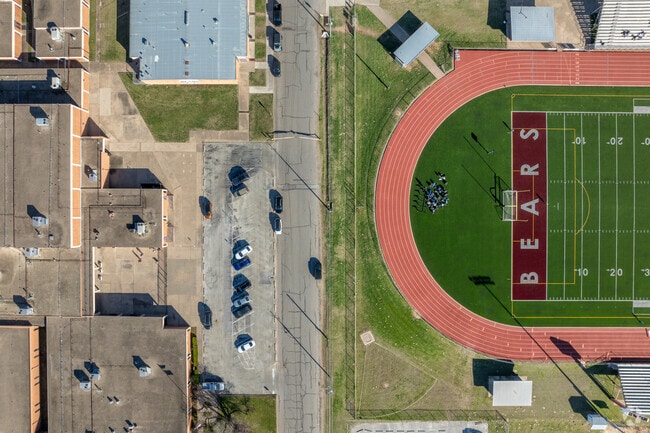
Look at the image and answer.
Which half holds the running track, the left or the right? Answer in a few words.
right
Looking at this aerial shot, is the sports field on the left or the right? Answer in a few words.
right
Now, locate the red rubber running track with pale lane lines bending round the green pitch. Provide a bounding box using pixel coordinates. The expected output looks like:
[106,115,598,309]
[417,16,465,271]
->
[375,48,650,363]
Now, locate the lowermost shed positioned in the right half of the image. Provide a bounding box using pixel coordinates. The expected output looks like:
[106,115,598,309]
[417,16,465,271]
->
[584,411,607,430]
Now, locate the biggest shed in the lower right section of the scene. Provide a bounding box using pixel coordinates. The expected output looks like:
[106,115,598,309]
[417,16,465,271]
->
[489,378,532,406]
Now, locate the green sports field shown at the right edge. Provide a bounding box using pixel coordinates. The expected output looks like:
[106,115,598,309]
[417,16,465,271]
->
[411,86,650,326]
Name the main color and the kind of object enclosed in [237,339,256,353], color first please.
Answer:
white vehicle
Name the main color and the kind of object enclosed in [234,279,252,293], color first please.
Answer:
black vehicle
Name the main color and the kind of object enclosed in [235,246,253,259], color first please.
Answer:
white vehicle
